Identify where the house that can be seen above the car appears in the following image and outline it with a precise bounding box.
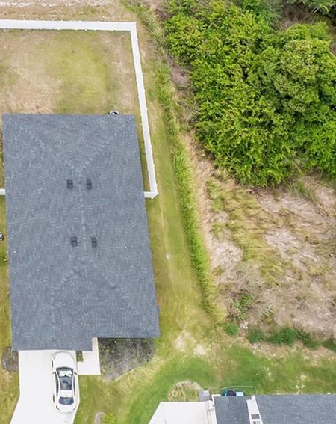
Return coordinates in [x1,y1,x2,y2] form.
[0,113,161,352]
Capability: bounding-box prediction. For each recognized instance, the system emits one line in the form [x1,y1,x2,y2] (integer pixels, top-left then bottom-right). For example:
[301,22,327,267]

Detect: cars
[51,350,79,413]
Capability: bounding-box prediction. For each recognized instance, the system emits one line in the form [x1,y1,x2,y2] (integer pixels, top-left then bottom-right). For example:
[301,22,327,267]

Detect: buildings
[203,394,336,424]
[0,113,161,352]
